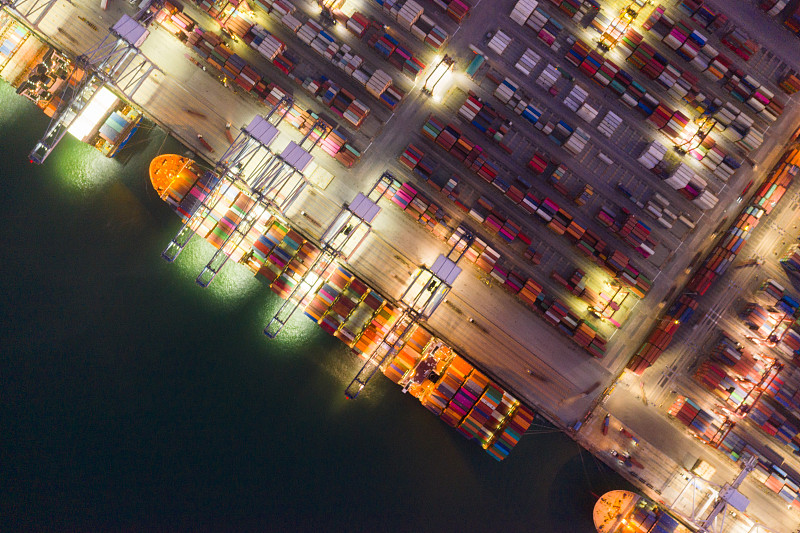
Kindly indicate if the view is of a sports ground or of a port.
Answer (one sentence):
The area seen from above is a port.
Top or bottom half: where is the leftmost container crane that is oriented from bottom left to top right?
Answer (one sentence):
The top half of the photo is where the leftmost container crane that is oriented from bottom left to top right is.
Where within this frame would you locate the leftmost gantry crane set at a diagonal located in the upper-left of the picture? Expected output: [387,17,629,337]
[28,0,173,165]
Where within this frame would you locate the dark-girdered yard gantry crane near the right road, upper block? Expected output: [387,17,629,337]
[668,112,718,157]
